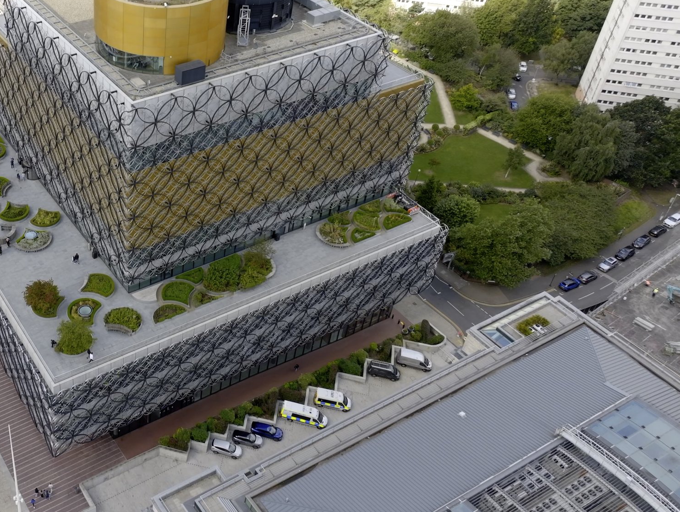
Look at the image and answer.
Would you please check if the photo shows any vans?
Yes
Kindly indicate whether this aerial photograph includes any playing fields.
Yes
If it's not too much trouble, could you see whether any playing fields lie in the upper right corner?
No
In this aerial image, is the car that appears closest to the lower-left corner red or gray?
gray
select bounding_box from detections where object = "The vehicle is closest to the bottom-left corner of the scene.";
[210,436,243,459]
